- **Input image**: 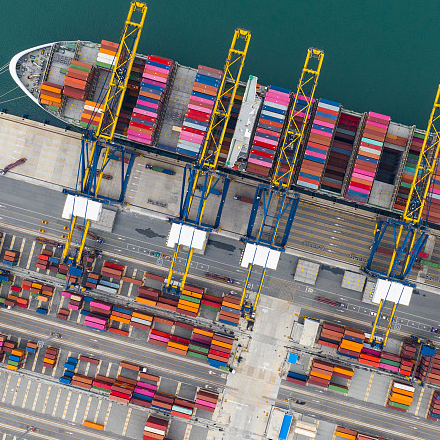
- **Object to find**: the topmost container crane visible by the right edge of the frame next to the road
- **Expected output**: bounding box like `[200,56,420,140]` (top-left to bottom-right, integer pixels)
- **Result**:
[362,80,440,356]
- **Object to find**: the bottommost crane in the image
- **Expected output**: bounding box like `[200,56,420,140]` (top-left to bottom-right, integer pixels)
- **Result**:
[403,336,437,385]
